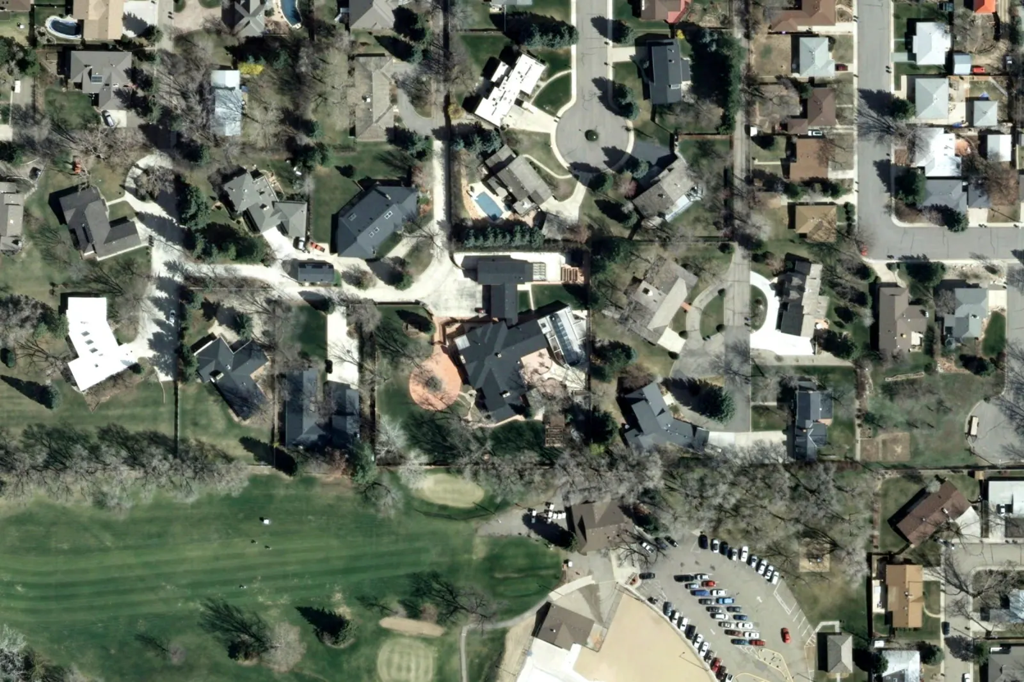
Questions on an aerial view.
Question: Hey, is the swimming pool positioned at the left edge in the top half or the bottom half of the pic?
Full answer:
The swimming pool positioned at the left edge sits in the top half of the picture.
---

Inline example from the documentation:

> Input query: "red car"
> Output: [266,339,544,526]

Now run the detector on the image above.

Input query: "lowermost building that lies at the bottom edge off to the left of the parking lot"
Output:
[536,602,596,655]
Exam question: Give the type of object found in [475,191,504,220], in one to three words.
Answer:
swimming pool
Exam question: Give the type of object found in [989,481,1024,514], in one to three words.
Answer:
house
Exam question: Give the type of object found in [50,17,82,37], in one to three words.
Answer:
swimming pool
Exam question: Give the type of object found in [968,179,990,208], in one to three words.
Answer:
building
